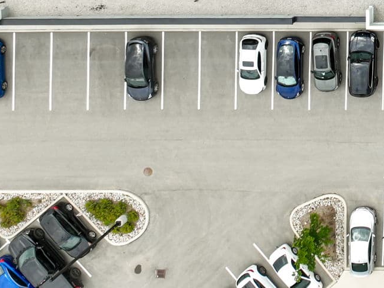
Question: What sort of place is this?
parking lot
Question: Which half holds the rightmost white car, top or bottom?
bottom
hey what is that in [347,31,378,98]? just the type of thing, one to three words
car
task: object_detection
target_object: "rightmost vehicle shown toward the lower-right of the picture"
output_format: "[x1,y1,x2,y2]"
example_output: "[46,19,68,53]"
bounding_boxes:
[347,207,378,276]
